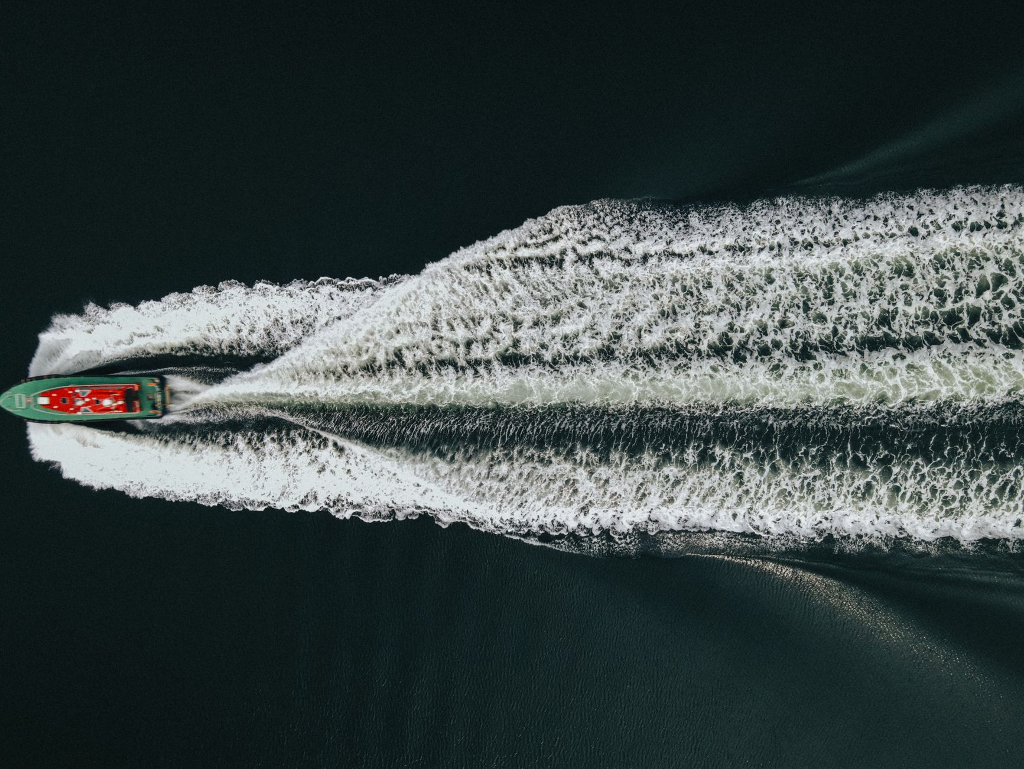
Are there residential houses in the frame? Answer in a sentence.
No, I can see no residential house in this picture.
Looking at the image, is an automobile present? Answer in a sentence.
No, the picture doesn't show any automobile.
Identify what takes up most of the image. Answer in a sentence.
The scene is dominated by water.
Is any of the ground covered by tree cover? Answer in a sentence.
No, there is no tree cover in the image.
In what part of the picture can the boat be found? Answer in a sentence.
The boat is located in the left region of the scene.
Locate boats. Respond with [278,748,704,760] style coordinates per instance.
[0,375,170,426]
